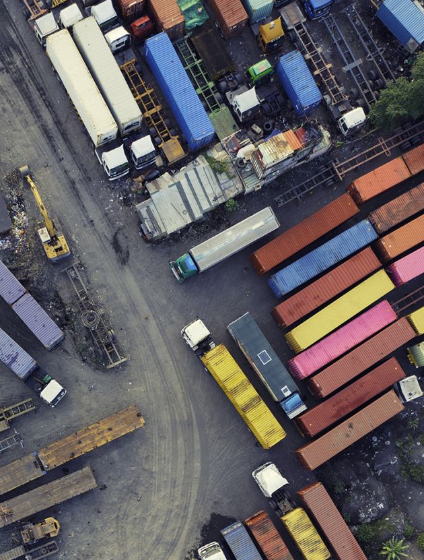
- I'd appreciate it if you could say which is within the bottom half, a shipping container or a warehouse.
shipping container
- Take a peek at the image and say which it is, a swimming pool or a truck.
truck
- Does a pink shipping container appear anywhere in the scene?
Yes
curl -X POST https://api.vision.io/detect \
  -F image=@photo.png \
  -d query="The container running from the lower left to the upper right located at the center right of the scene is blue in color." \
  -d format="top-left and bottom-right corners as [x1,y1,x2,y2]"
[265,219,377,301]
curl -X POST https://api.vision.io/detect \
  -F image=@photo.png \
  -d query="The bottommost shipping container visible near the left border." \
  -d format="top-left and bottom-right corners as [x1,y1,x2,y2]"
[0,328,39,382]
